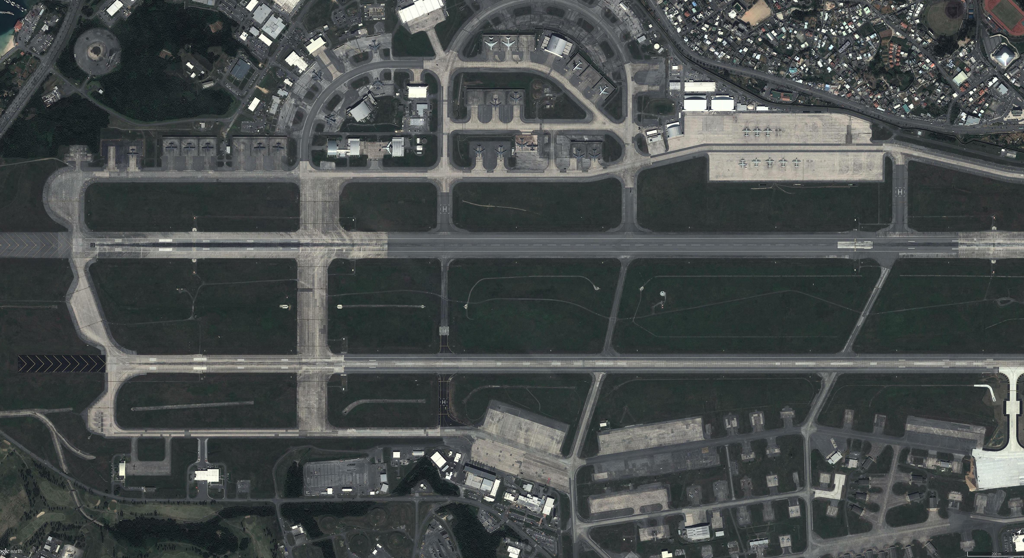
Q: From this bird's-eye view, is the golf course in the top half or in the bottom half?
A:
bottom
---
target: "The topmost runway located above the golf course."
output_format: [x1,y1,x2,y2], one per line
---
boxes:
[15,232,1024,258]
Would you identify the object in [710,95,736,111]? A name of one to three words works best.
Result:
hangar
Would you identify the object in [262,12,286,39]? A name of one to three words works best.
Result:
building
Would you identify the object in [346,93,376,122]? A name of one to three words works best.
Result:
hangar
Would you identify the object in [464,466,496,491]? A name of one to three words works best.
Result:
building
